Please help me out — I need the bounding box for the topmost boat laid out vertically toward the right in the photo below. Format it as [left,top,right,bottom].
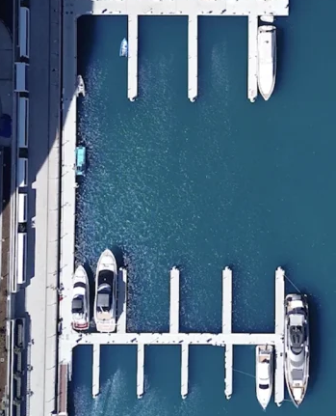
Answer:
[258,26,276,100]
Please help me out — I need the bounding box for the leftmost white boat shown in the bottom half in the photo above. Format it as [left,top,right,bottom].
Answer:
[72,266,89,329]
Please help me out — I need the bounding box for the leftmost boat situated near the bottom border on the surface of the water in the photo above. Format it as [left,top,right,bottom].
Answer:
[257,346,273,408]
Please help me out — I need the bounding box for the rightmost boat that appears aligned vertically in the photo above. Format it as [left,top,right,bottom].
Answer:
[284,294,309,407]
